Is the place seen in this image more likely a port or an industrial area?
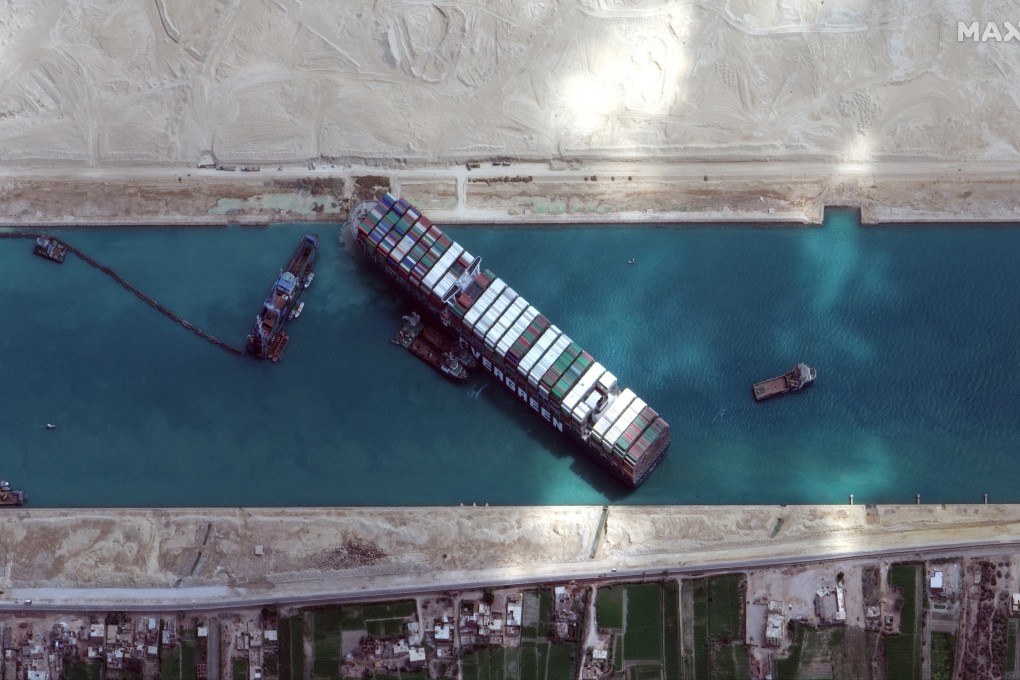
port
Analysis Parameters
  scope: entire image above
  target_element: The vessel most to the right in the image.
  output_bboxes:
[753,365,815,401]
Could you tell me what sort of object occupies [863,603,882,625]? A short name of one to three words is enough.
house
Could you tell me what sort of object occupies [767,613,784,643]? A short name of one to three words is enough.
house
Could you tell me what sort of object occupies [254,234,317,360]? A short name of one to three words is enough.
ship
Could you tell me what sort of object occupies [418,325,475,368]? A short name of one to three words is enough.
vessel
